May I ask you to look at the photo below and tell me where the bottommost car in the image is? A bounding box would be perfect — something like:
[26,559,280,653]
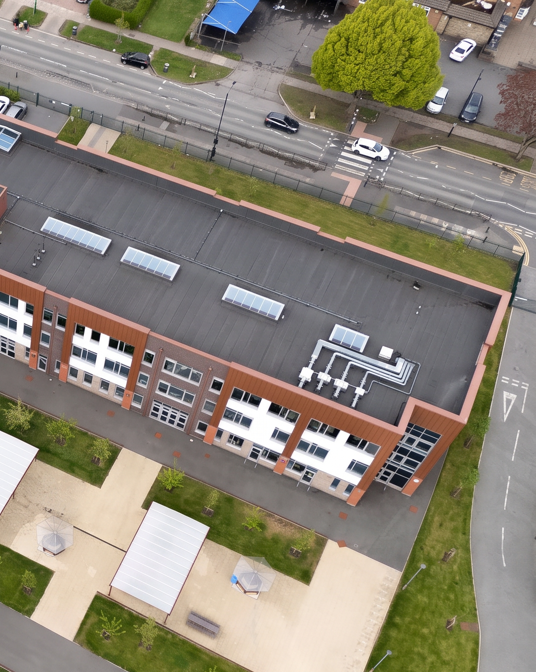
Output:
[353,138,390,162]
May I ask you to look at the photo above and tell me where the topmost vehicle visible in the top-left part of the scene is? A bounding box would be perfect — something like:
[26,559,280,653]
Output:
[120,49,151,69]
